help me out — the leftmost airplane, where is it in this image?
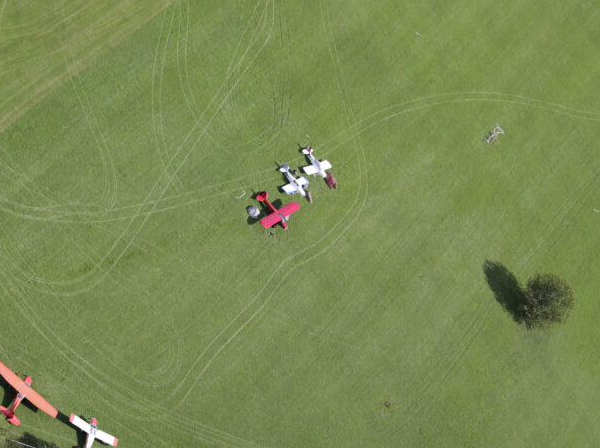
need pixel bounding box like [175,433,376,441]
[0,361,59,423]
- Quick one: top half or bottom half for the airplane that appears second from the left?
bottom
